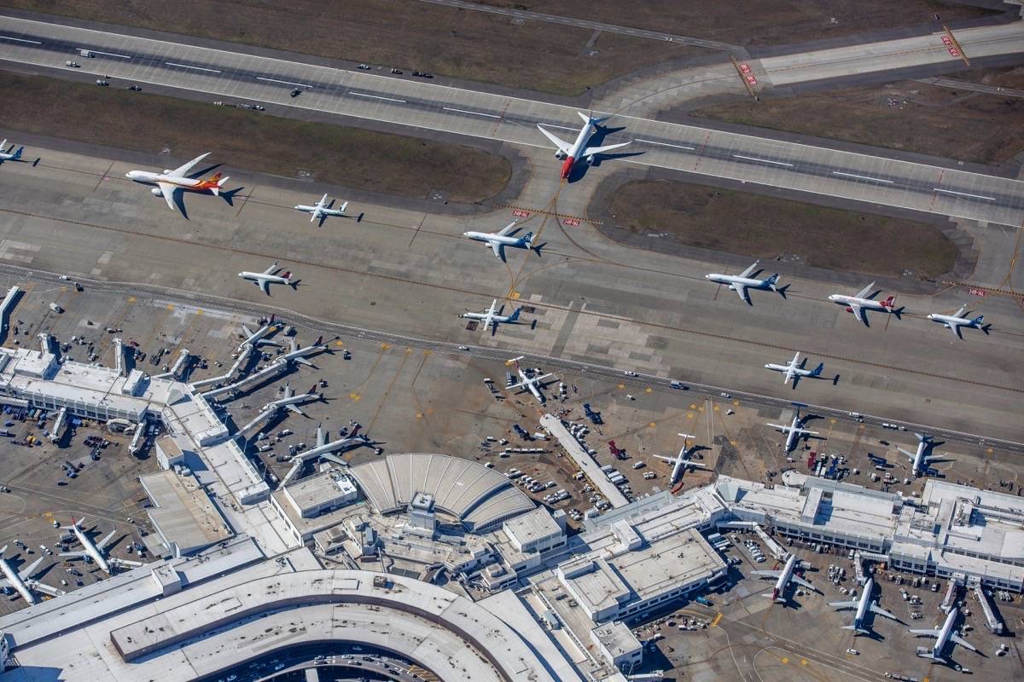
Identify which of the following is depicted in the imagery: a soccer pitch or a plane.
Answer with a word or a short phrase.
plane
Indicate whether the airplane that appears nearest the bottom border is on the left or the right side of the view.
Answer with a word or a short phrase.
right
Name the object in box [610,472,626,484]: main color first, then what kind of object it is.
white vehicle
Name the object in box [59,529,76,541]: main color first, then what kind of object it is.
gray vehicle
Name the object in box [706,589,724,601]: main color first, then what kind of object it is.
gray vehicle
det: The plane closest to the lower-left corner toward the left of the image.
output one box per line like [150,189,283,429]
[0,549,44,604]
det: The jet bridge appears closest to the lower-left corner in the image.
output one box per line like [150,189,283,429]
[25,578,66,597]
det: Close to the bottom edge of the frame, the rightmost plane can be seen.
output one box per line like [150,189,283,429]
[908,607,978,661]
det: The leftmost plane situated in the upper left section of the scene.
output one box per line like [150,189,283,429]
[0,138,23,159]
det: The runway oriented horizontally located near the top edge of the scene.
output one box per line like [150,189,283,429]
[0,15,1024,226]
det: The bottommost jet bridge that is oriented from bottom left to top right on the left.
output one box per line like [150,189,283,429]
[274,462,304,492]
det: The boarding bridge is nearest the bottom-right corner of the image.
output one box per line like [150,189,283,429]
[973,587,1004,638]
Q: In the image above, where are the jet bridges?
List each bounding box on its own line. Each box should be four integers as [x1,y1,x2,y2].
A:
[128,424,145,460]
[49,408,67,444]
[201,360,288,400]
[25,578,66,597]
[114,338,125,372]
[937,578,956,614]
[39,332,50,353]
[230,408,278,444]
[854,550,887,588]
[274,462,304,492]
[973,587,1004,638]
[716,522,794,566]
[153,350,190,382]
[107,556,145,572]
[637,670,668,682]
[188,345,253,391]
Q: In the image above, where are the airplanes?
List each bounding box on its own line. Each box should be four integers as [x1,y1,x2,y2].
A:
[508,360,557,405]
[287,419,372,468]
[651,436,704,485]
[465,219,534,257]
[908,607,978,661]
[749,554,816,602]
[535,101,630,177]
[892,430,948,478]
[272,329,333,371]
[707,261,778,300]
[54,513,119,572]
[460,301,517,332]
[238,259,292,292]
[0,138,23,159]
[292,194,346,223]
[828,281,895,320]
[0,549,44,604]
[262,375,324,419]
[765,407,818,455]
[234,307,287,353]
[826,578,898,632]
[123,150,231,208]
[761,352,820,384]
[927,305,983,338]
